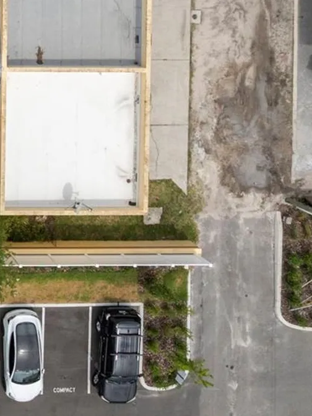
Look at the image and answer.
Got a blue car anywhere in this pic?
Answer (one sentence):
No, there appears to be no blue car in this shot.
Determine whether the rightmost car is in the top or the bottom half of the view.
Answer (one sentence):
You can find the rightmost car in the bottom half.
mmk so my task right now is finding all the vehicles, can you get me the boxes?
[0,308,49,401]
[90,295,148,401]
